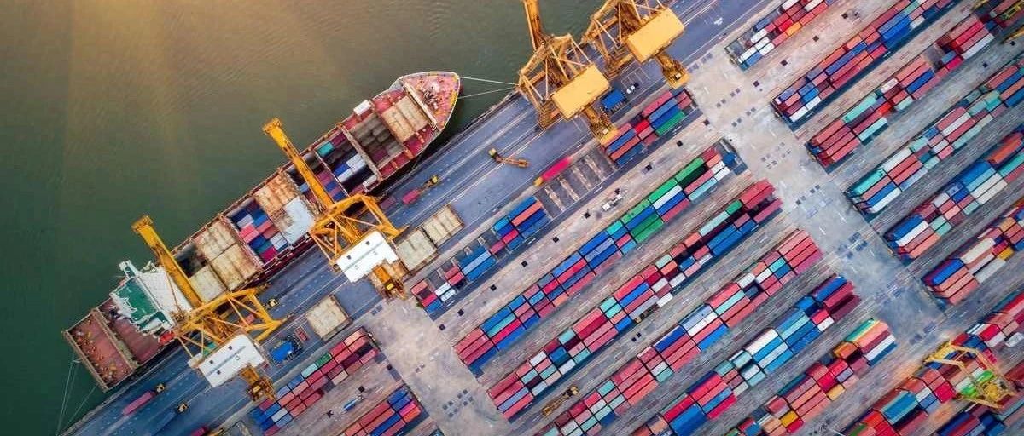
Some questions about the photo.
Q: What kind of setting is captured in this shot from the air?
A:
port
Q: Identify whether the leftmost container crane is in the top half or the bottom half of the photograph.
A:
bottom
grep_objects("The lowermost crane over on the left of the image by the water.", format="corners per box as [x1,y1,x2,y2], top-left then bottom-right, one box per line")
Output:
[127,211,304,403]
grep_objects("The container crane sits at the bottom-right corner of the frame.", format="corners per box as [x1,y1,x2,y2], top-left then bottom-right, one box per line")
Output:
[918,334,1022,420]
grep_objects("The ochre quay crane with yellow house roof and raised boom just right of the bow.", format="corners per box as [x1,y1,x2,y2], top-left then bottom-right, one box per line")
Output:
[508,0,620,150]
